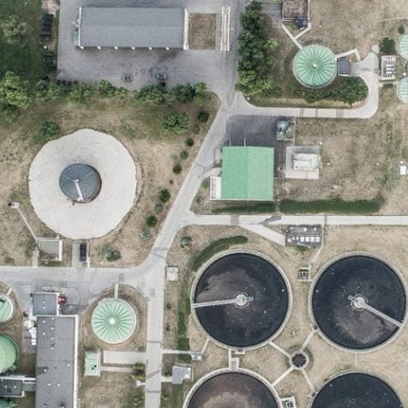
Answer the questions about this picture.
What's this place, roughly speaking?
industrial area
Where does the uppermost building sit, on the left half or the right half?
right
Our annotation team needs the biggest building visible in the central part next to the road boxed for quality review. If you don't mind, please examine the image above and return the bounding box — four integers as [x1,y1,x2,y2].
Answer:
[210,146,273,201]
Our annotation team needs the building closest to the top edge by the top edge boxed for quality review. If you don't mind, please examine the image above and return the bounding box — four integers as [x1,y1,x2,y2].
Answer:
[282,0,309,20]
